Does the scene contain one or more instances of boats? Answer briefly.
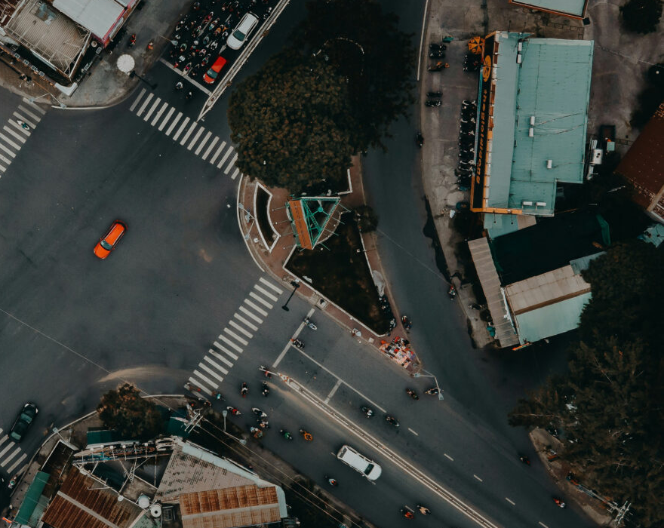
No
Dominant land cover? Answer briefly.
paved ground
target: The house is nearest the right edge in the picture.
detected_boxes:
[598,108,664,226]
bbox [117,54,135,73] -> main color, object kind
white umbrella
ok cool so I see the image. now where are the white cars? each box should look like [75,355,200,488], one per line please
[336,444,383,483]
[225,10,261,53]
